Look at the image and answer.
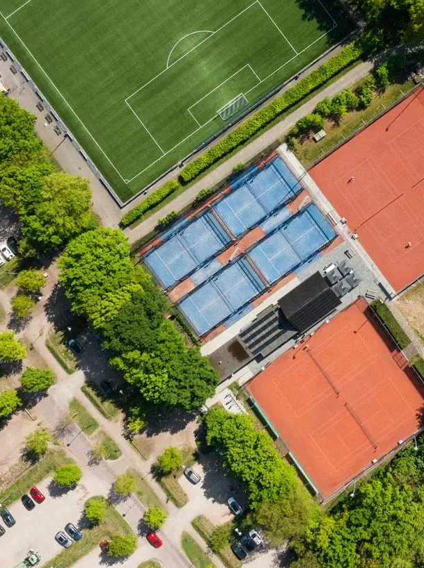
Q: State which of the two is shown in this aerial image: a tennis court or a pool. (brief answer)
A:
tennis court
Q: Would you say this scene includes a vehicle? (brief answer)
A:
Yes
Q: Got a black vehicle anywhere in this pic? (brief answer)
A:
Yes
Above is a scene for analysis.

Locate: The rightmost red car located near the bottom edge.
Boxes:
[147,530,162,548]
